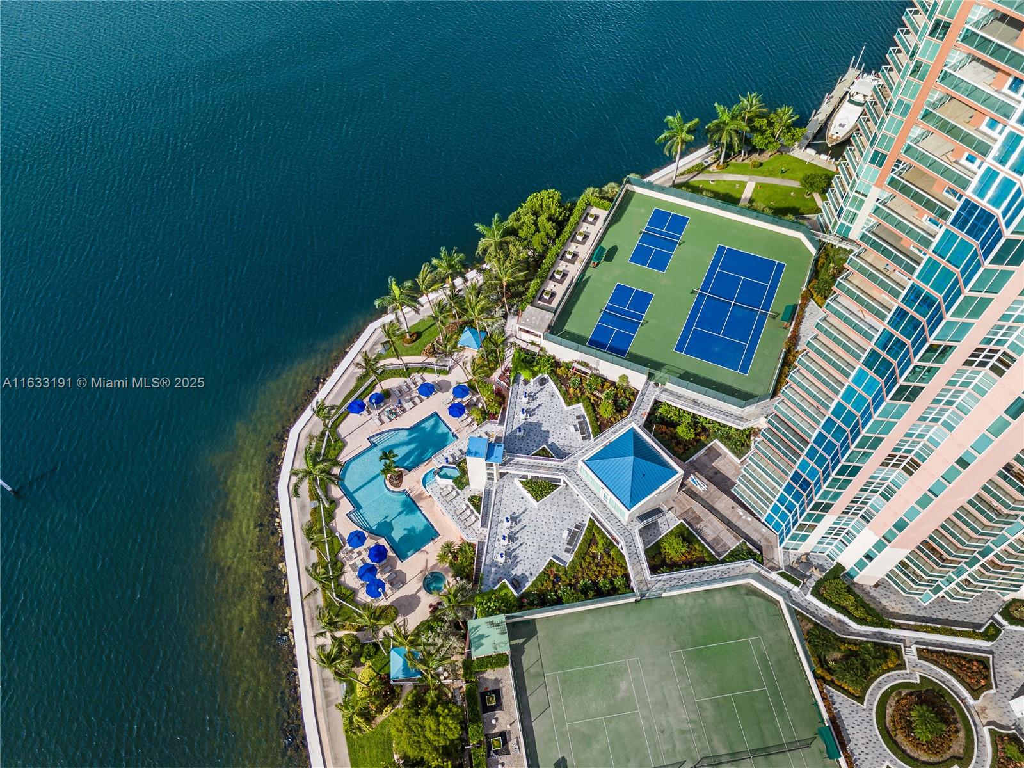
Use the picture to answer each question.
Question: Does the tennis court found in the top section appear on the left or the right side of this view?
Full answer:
You can find the tennis court found in the top section on the right side of the picture.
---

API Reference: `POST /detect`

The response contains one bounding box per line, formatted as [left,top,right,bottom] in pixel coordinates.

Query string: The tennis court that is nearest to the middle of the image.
[543,193,812,400]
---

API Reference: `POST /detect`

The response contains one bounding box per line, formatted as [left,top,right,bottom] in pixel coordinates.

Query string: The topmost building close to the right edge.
[731,0,1024,606]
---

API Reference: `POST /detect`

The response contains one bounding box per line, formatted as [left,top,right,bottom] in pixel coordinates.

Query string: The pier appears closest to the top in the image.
[799,68,859,149]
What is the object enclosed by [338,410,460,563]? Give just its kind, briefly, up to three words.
swimming pool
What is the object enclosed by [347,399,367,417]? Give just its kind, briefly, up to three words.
umbrella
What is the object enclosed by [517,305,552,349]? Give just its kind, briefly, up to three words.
shed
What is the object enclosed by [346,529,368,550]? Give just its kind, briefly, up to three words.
umbrella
